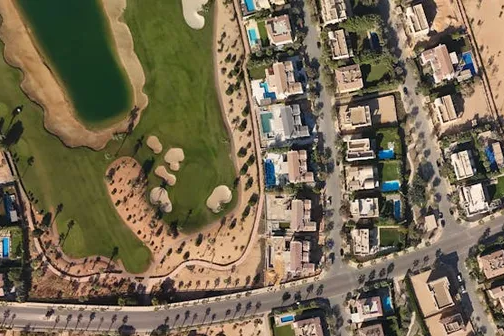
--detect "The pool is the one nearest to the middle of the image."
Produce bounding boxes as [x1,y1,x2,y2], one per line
[264,155,286,189]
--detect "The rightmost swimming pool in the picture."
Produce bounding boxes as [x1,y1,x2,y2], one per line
[483,144,497,169]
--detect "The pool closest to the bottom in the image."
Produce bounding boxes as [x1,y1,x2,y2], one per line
[274,310,295,325]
